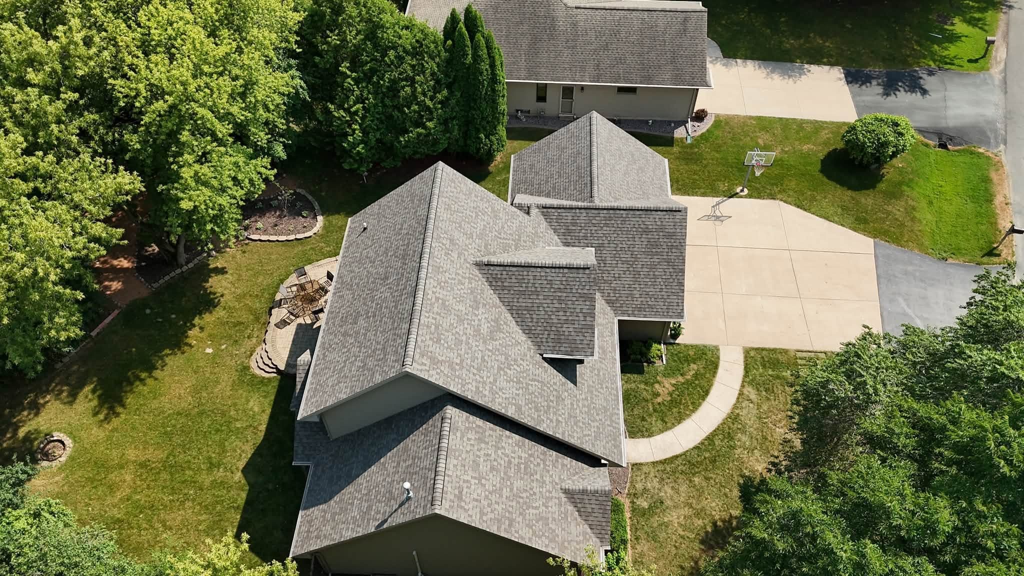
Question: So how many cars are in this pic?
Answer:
0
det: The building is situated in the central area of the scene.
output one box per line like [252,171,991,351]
[288,110,689,576]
